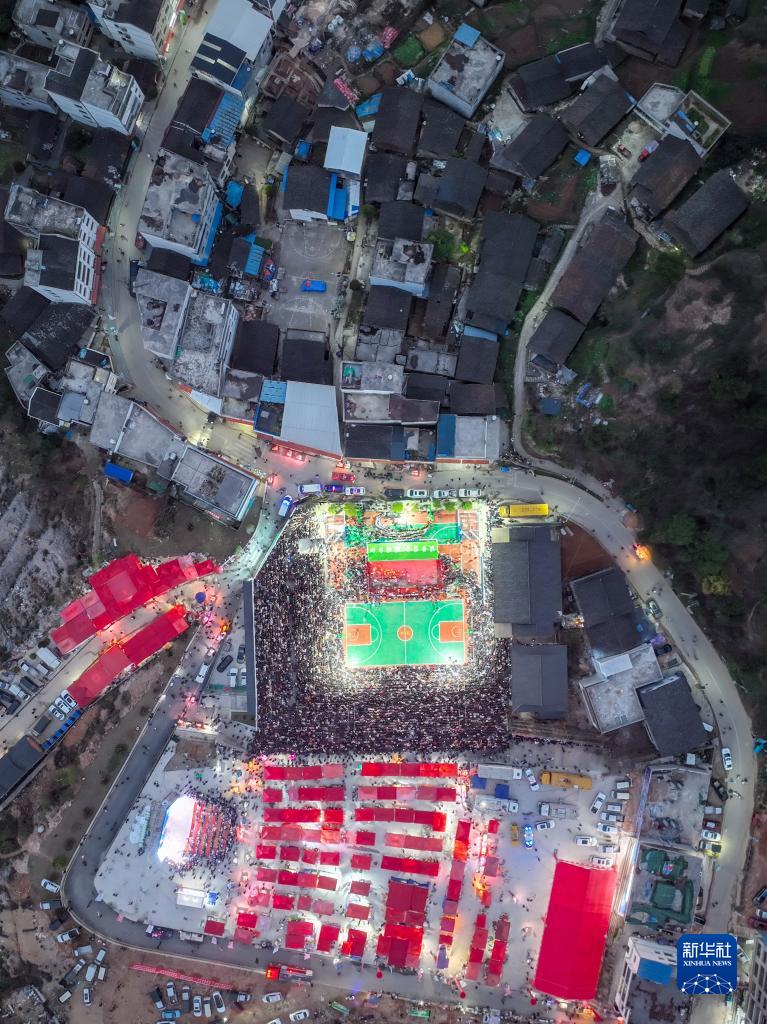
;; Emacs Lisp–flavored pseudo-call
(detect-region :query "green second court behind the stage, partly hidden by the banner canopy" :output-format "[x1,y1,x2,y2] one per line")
[330,511,479,588]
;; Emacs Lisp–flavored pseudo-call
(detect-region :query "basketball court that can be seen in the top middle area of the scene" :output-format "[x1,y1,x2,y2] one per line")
[278,224,345,332]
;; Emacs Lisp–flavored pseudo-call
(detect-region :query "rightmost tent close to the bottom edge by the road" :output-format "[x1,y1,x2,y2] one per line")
[530,854,617,1000]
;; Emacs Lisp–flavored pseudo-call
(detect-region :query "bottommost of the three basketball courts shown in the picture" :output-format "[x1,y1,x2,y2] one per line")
[346,601,466,667]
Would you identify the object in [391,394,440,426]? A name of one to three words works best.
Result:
building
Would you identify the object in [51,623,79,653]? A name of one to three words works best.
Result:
tent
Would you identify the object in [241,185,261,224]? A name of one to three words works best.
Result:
house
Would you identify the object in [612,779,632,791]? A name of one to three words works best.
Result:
vehicle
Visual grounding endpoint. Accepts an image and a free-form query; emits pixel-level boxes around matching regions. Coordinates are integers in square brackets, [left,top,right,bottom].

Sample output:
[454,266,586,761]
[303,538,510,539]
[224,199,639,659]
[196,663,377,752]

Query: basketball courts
[330,511,479,588]
[278,224,345,332]
[346,601,466,667]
